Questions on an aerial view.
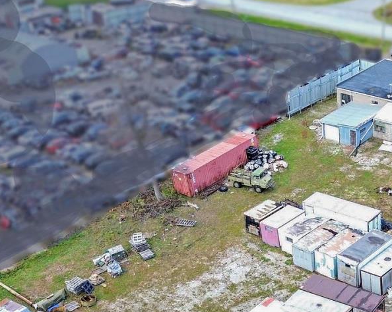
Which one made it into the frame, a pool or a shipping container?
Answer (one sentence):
I can see a shipping container in this picture.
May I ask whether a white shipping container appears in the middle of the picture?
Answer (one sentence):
No, looking in the middle of the picture, there is no white shipping container.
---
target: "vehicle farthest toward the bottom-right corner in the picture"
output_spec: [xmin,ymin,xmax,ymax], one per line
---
[229,168,273,193]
